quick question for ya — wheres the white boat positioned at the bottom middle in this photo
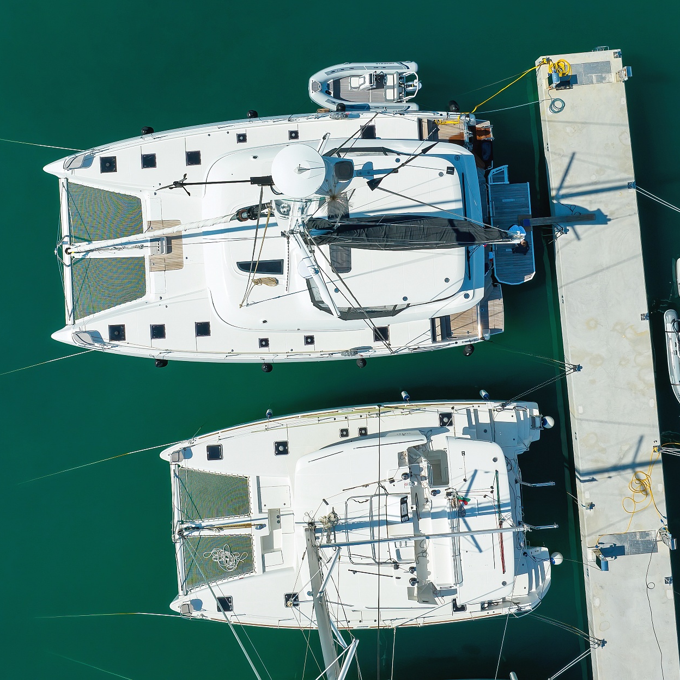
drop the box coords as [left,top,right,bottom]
[160,389,558,680]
